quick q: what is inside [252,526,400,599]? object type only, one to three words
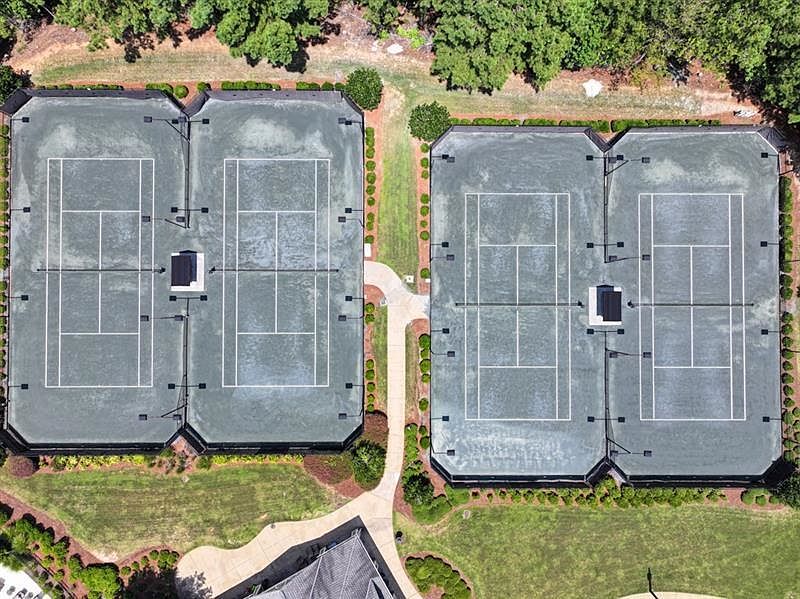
house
